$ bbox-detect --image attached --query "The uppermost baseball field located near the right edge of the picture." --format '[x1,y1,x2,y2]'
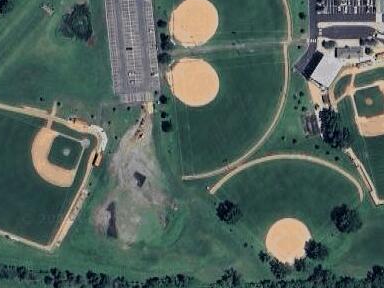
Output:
[323,60,384,204]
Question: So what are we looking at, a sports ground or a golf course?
sports ground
